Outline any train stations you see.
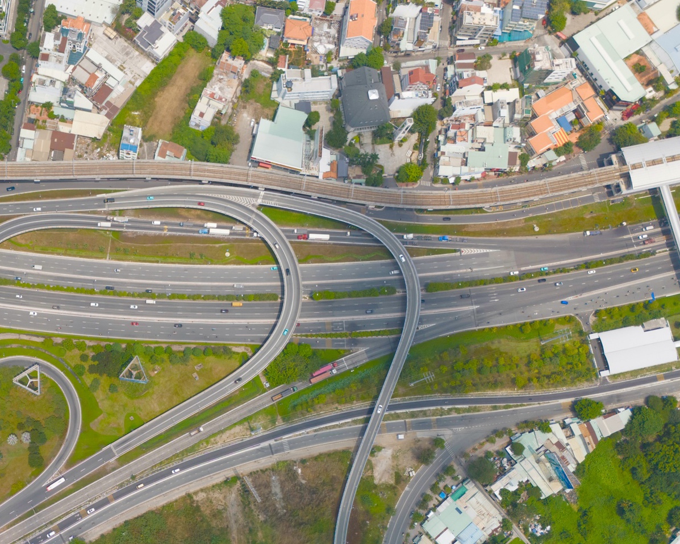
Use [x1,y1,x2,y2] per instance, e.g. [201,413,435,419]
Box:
[607,137,680,198]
